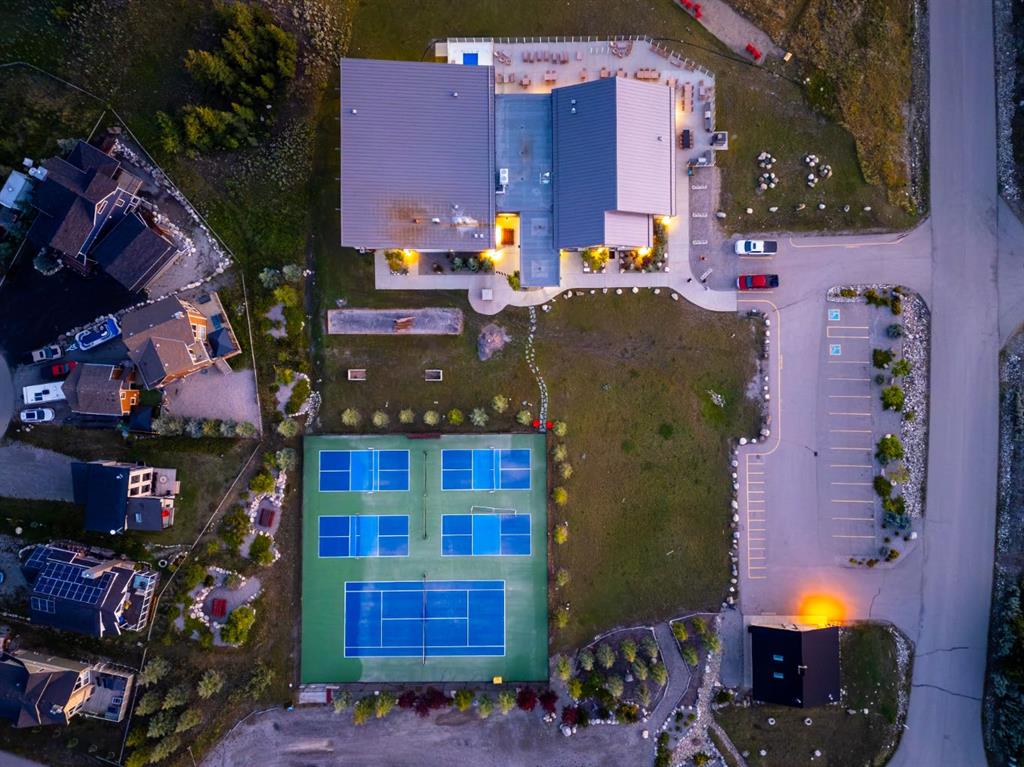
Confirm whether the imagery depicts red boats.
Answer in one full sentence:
No, there's no red boat here.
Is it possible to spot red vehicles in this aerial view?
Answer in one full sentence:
Yes, the picture does show a red vehicle.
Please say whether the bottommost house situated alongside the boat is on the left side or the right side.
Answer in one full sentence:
The bottommost house situated alongside the boat sits on the left side.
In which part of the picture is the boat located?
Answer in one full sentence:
The boat sits in the left section of the image.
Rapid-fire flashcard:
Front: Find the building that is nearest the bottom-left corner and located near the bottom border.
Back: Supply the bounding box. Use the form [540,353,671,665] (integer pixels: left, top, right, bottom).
[0,643,137,730]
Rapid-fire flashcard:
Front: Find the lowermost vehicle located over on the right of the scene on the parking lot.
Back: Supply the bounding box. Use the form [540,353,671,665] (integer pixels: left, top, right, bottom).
[736,274,778,290]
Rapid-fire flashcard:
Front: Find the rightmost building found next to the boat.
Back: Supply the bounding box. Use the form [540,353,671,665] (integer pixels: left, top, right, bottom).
[122,291,242,389]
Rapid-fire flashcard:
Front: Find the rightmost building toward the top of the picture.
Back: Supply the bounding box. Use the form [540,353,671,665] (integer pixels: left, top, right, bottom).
[338,57,674,288]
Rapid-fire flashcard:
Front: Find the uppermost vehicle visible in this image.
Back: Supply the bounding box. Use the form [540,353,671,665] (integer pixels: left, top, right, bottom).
[734,239,776,256]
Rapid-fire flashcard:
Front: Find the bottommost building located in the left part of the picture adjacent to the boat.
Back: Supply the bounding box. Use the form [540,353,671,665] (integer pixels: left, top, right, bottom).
[62,364,141,416]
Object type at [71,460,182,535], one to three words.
house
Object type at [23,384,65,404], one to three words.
camper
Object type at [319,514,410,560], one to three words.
sports court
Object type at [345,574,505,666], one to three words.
tennis court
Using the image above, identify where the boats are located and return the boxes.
[74,317,122,349]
